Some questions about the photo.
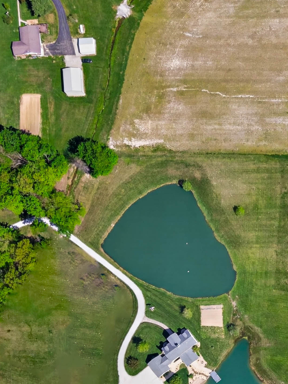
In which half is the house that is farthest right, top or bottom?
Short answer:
bottom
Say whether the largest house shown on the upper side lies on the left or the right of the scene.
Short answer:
left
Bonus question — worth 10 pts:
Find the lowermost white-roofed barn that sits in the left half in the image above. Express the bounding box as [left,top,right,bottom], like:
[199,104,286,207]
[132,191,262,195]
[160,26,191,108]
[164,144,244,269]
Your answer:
[62,67,85,96]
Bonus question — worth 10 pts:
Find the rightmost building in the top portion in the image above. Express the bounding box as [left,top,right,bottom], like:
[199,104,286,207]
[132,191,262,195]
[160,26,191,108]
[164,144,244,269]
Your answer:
[78,38,97,57]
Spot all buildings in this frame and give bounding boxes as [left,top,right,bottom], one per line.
[148,329,201,380]
[12,25,53,59]
[78,38,97,57]
[62,67,85,96]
